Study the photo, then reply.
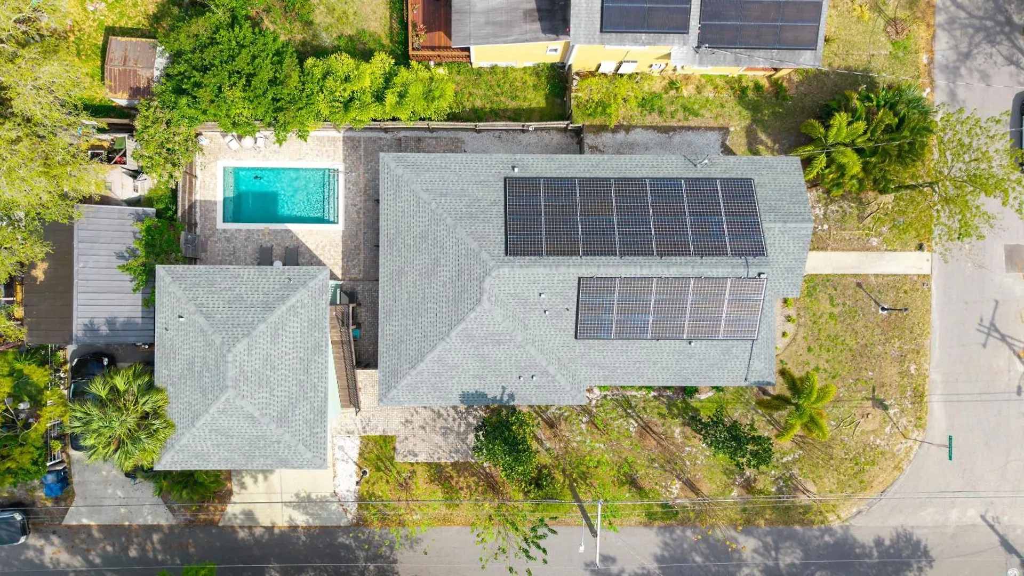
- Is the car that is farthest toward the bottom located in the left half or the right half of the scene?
left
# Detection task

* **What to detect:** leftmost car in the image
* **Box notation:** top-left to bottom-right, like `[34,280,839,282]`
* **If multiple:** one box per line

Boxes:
[0,505,36,545]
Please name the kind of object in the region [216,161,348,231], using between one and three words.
swimming pool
